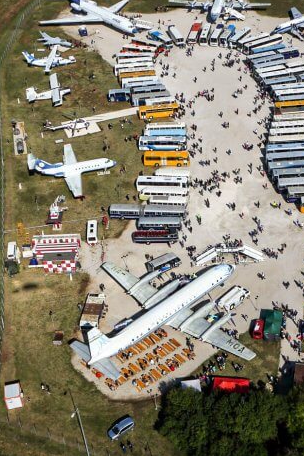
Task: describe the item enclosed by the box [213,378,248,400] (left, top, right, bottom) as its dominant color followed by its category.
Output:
red tent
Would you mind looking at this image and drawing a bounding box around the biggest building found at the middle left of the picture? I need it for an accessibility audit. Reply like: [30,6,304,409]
[36,237,83,268]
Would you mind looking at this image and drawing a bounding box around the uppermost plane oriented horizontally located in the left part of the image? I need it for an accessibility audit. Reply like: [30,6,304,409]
[38,0,134,35]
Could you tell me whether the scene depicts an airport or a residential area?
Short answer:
airport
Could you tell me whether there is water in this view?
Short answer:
No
